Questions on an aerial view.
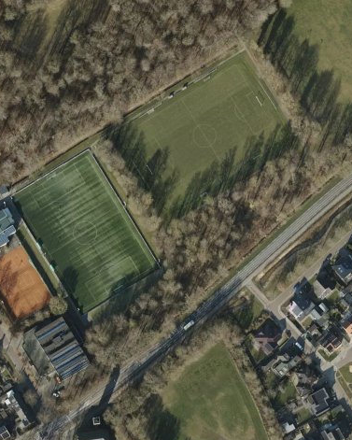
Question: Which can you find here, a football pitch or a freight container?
football pitch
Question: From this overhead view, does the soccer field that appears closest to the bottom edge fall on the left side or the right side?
left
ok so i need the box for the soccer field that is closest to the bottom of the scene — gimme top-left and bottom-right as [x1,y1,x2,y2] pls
[15,151,159,312]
